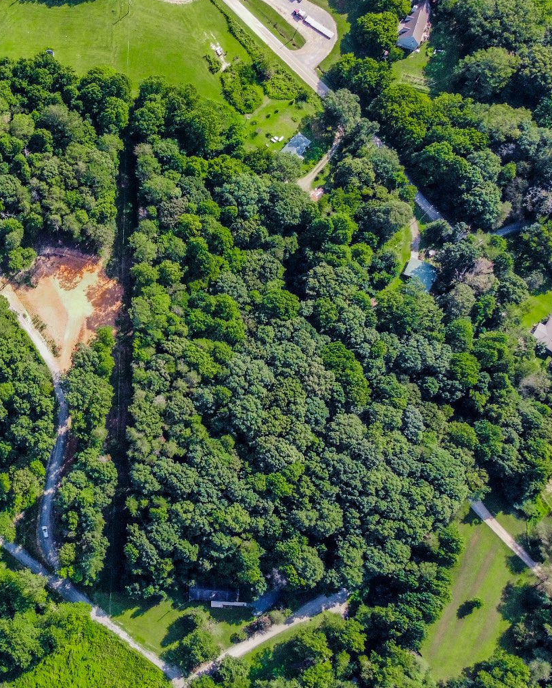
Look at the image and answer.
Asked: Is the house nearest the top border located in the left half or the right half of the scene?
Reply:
right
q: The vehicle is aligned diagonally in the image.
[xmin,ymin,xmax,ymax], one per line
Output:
[292,12,333,40]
